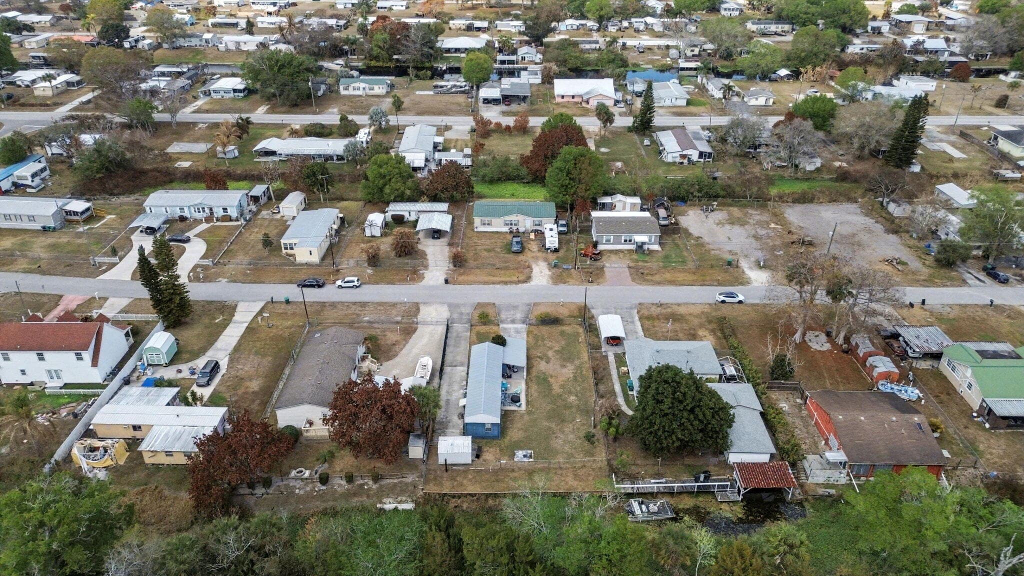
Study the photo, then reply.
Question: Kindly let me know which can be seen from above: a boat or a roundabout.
boat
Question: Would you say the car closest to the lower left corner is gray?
Yes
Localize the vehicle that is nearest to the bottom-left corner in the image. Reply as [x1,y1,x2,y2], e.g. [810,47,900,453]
[192,364,223,391]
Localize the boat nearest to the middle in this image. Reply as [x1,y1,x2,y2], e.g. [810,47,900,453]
[412,355,432,377]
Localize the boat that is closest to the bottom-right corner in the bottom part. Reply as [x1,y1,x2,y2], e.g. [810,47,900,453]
[862,382,937,403]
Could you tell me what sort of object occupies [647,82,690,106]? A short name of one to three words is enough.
house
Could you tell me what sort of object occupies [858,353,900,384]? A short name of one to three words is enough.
shed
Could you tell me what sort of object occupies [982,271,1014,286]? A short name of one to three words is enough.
car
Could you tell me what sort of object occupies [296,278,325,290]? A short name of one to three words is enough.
vehicle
